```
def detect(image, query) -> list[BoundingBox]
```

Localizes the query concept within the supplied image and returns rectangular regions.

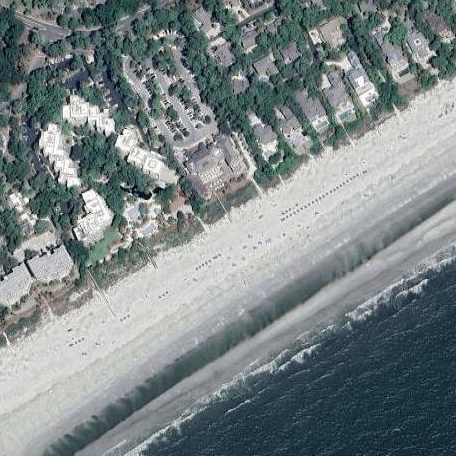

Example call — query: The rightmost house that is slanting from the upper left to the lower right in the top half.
[425,6,453,39]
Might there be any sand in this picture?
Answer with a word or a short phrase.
Yes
